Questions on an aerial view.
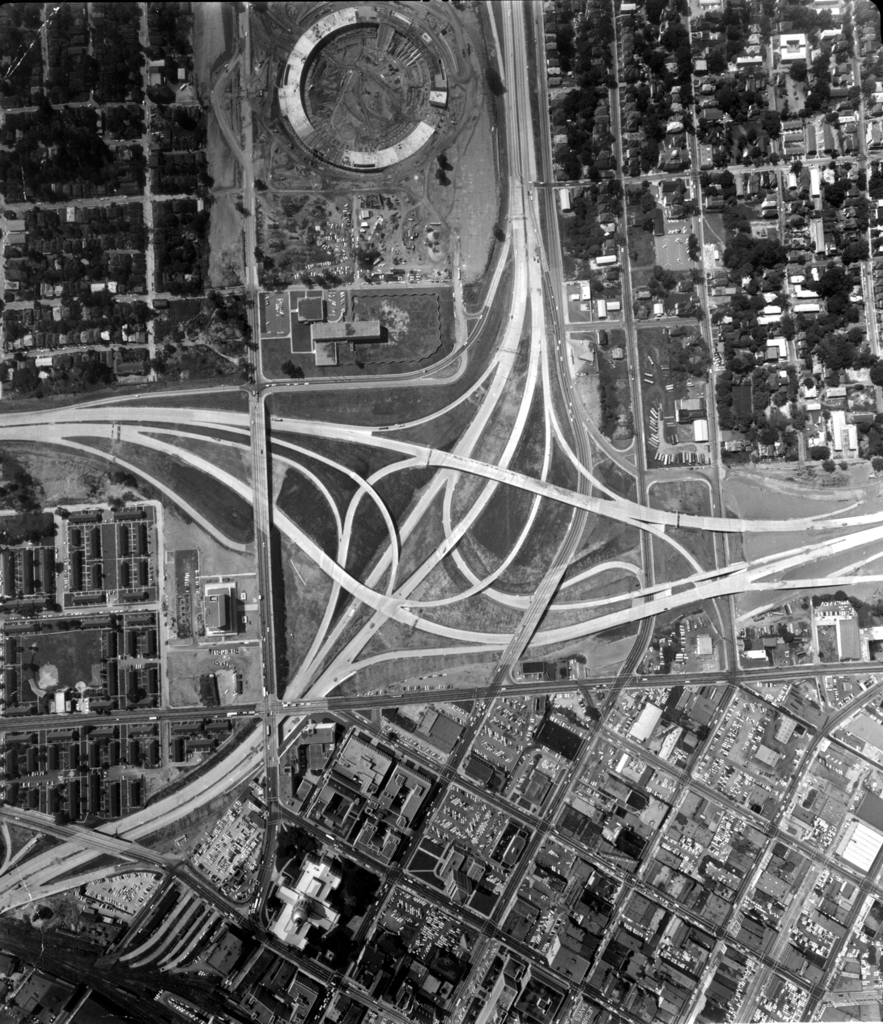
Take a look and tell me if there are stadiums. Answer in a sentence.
Yes, a stadium is visible in the scene.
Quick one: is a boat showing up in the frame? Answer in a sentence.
No, no boat is visible in the view.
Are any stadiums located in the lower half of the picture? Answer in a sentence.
No, I can find no stadium in the lower half of the picture.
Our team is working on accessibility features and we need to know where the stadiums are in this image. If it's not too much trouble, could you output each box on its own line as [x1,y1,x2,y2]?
[278,6,446,175]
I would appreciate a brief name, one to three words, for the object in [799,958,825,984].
building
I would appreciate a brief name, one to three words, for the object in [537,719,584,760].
building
